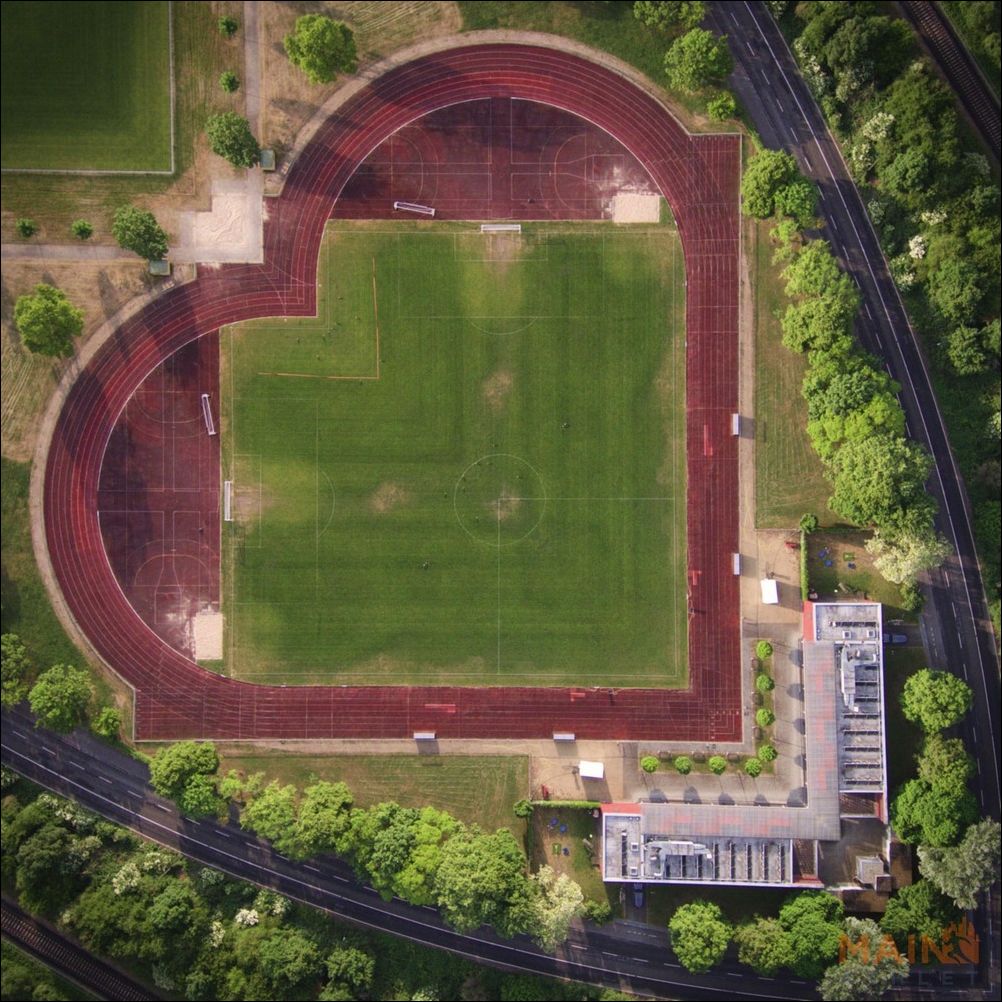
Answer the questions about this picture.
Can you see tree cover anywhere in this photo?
Yes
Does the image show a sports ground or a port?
sports ground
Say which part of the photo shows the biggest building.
bottom right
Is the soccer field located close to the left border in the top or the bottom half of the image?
top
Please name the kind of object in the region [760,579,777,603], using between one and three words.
gazebo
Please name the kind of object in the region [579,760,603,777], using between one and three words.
gazebo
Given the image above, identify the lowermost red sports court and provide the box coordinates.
[98,330,219,664]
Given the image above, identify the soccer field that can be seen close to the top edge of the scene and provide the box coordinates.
[0,0,173,172]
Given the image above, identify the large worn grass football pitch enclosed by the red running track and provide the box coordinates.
[218,218,690,690]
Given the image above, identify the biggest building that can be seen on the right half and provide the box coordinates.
[602,602,891,891]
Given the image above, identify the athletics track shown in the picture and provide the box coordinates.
[43,43,742,742]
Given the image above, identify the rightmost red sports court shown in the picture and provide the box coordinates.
[330,98,664,219]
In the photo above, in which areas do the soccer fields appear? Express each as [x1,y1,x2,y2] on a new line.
[0,0,173,172]
[218,218,690,690]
